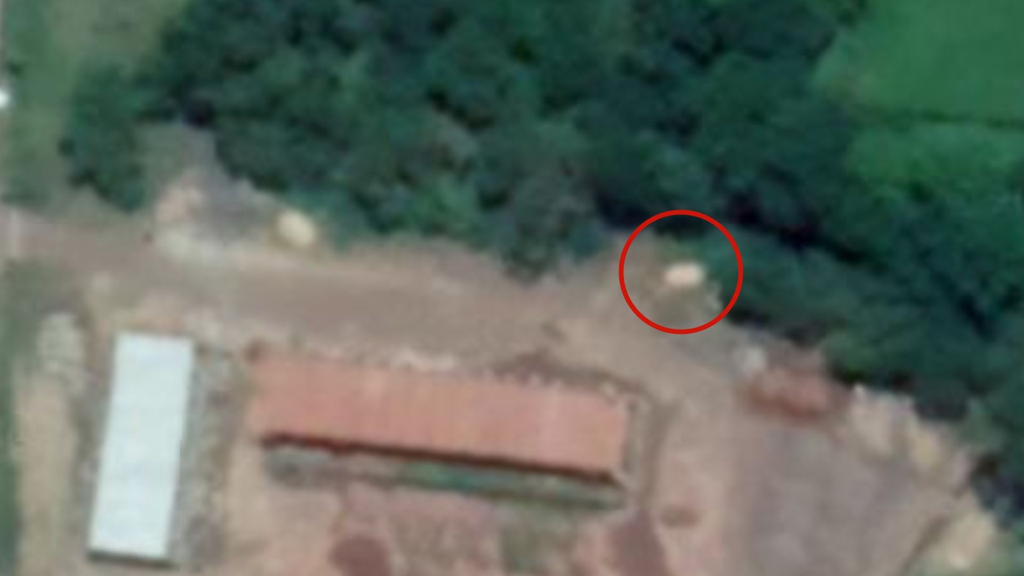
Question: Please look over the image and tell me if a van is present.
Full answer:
No, there's no van here.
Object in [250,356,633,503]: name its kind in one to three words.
shed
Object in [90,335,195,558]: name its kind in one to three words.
shed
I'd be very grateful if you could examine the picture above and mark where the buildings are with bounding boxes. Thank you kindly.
[250,356,633,503]
[90,335,195,558]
